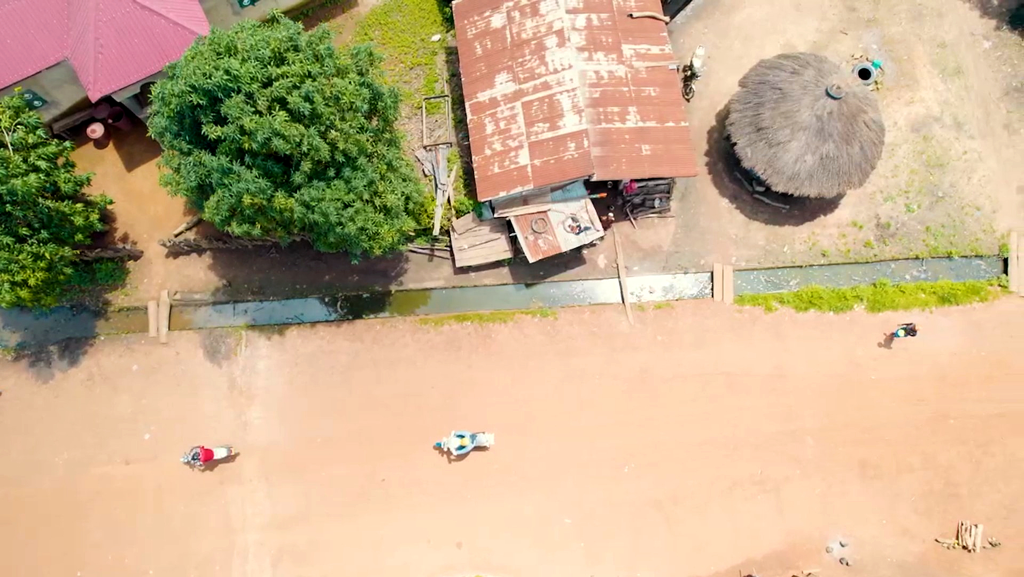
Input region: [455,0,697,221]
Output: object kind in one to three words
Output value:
building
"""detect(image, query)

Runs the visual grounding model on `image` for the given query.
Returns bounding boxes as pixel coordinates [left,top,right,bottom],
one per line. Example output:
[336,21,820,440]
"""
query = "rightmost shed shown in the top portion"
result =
[724,54,886,202]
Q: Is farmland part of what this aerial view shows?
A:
No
